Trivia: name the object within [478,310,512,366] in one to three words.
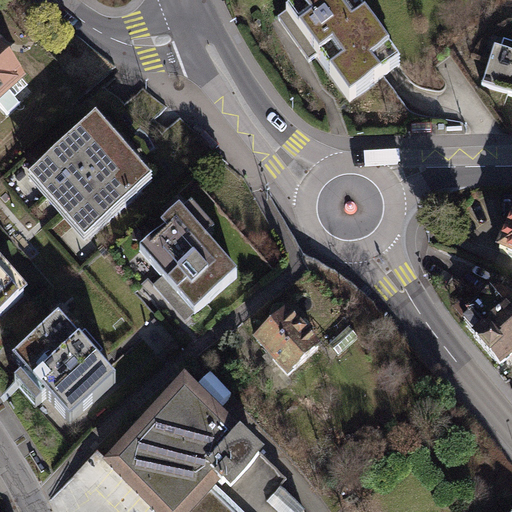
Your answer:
house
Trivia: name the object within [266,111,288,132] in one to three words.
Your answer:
car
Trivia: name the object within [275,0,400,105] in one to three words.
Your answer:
building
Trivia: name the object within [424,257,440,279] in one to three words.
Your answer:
car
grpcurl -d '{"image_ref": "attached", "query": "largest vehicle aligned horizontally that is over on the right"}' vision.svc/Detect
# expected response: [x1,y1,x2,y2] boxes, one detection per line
[354,149,400,166]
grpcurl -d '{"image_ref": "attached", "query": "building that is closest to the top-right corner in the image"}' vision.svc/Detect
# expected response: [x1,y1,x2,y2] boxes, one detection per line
[480,37,512,104]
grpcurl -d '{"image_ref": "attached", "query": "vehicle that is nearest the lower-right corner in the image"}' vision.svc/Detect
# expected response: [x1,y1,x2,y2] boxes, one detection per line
[471,294,490,316]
